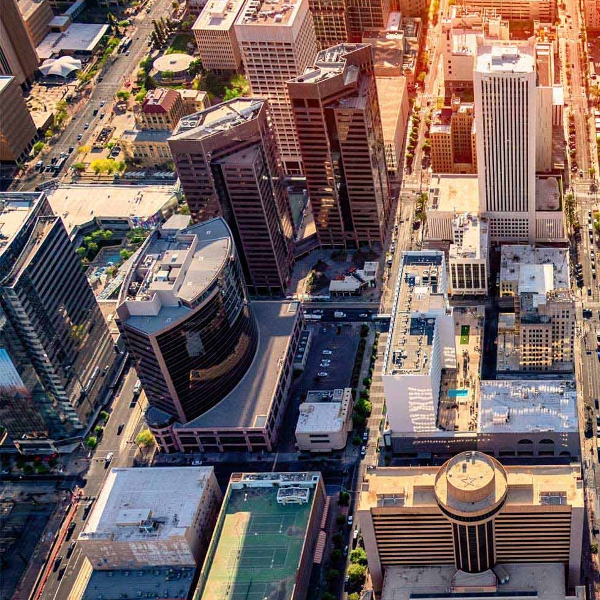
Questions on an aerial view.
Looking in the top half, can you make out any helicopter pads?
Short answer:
No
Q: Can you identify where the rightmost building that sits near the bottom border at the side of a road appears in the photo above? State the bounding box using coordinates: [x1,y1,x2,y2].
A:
[357,452,587,600]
